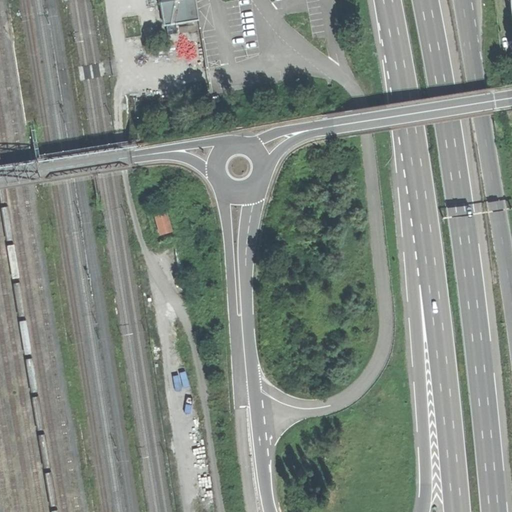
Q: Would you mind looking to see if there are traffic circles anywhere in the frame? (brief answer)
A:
Yes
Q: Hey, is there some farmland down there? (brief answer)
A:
No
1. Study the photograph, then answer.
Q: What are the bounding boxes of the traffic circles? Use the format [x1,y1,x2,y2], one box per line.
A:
[206,134,278,206]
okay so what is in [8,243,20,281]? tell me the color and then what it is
white rail car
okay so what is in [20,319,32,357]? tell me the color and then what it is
white rail car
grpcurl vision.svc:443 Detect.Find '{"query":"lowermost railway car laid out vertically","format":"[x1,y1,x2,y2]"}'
[45,471,57,509]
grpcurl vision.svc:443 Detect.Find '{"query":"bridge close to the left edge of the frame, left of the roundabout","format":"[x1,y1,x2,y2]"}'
[0,140,138,188]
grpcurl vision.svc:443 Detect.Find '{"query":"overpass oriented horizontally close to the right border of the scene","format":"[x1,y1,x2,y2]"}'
[351,88,494,135]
